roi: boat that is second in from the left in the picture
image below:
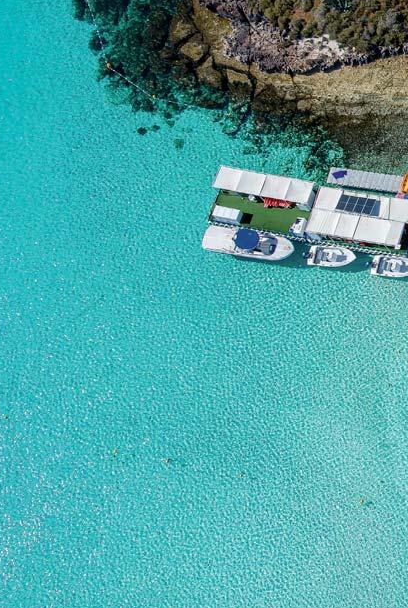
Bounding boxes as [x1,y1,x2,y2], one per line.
[305,244,356,268]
